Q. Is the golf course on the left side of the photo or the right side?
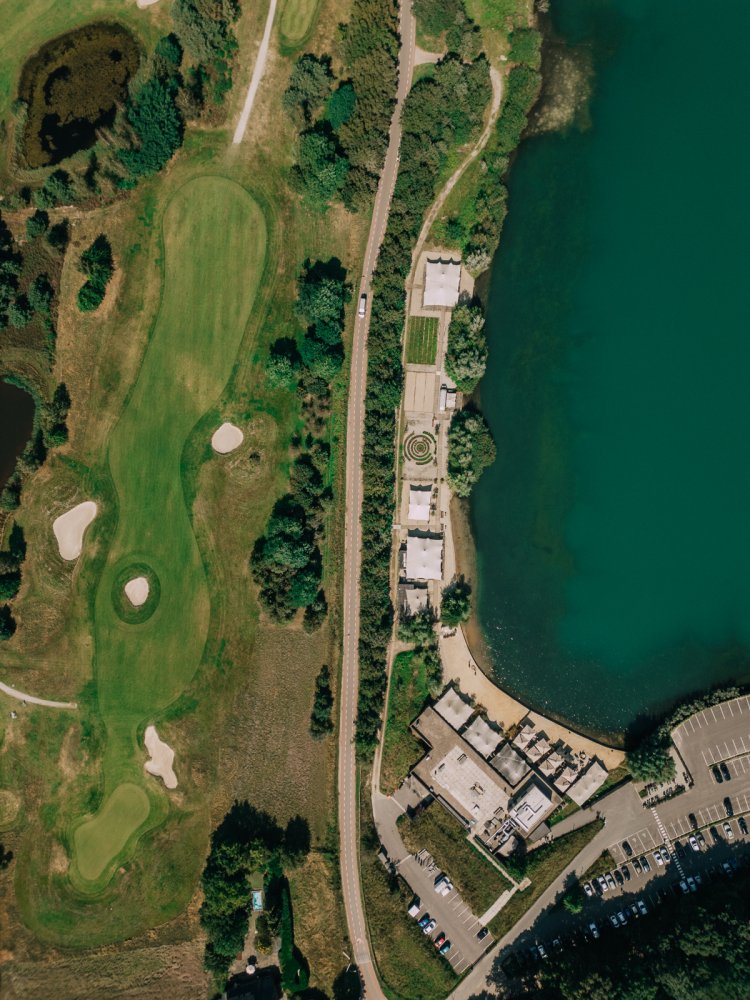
left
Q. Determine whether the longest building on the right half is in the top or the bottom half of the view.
bottom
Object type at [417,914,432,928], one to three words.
vehicle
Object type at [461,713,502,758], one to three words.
tent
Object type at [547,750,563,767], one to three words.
umbrella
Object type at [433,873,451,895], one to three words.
vehicle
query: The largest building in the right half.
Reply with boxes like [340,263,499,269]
[409,701,562,854]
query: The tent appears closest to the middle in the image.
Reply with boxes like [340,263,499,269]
[407,491,432,520]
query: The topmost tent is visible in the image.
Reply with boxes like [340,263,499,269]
[423,263,461,309]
